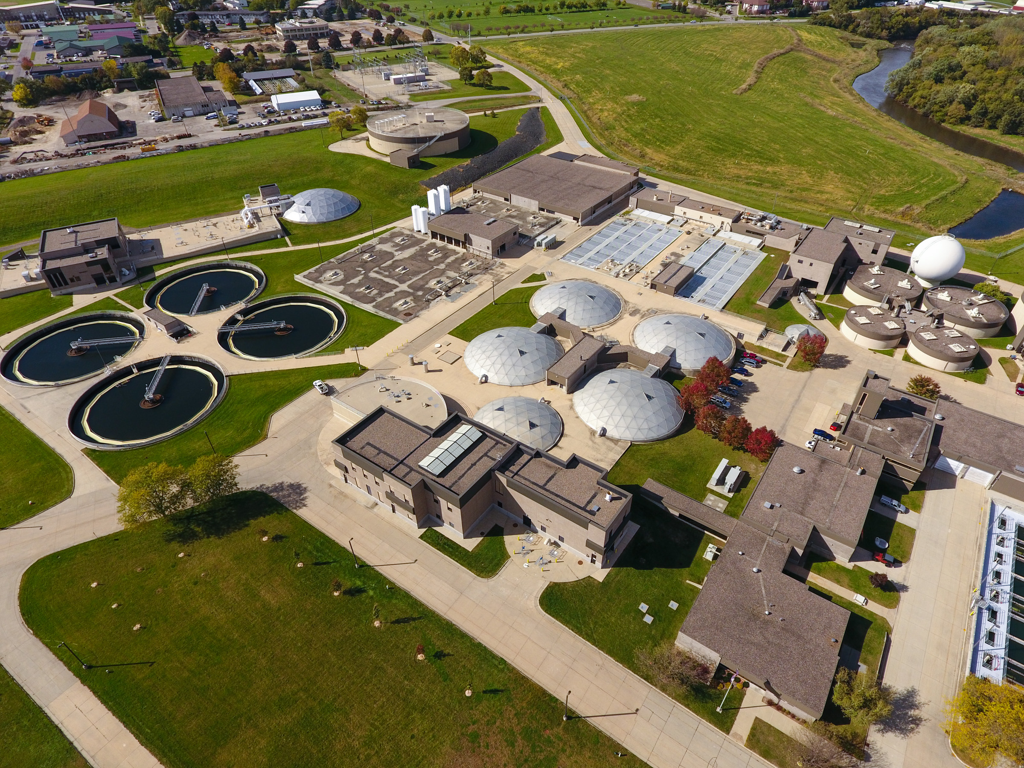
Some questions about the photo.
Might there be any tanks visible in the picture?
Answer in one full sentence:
Yes, there's a tank here.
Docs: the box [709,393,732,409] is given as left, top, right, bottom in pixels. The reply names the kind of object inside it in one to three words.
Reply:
vehicle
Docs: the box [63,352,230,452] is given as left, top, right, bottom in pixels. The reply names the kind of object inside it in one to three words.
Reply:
storage tank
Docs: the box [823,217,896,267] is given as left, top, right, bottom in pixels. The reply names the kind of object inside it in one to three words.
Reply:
building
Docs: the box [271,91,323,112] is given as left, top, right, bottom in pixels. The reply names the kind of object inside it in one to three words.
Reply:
shed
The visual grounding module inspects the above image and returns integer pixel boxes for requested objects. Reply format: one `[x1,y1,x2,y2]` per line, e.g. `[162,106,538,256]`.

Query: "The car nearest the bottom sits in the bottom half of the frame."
[871,552,898,569]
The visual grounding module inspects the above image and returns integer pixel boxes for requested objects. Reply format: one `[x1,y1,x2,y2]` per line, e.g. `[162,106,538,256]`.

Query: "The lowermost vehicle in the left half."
[313,381,328,394]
